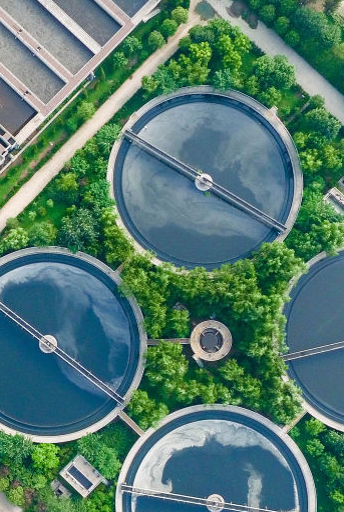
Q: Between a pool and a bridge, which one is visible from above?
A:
bridge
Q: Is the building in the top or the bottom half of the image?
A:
bottom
